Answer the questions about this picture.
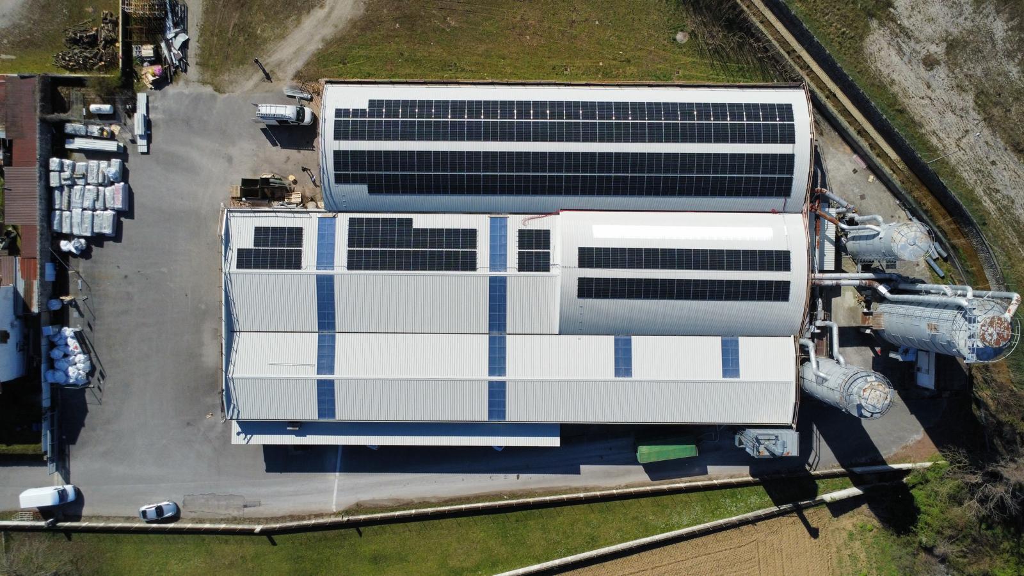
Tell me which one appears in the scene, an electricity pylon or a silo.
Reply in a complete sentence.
There is a silo in the scene.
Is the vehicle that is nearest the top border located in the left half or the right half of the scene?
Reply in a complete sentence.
The vehicle that is nearest the top border appears in the left half of the scene.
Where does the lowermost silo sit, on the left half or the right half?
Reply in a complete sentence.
The lowermost silo is on the right side of the image.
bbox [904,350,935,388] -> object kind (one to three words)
building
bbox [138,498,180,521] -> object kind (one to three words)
car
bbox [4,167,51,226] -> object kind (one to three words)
shed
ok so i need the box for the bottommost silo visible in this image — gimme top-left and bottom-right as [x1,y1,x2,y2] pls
[804,360,897,421]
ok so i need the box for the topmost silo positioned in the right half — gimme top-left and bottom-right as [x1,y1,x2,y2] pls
[848,219,941,265]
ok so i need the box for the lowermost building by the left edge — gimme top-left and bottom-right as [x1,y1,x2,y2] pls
[0,286,50,381]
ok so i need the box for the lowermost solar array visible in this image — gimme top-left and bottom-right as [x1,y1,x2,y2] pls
[578,279,792,301]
